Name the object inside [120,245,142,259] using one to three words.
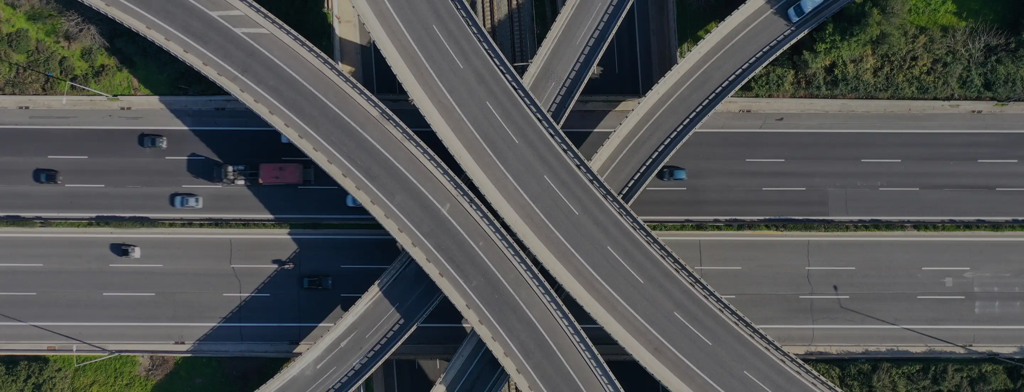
car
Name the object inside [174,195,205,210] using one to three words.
car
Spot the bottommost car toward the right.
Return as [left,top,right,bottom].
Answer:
[660,167,688,182]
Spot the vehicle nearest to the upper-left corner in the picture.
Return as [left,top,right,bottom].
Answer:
[39,170,66,184]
